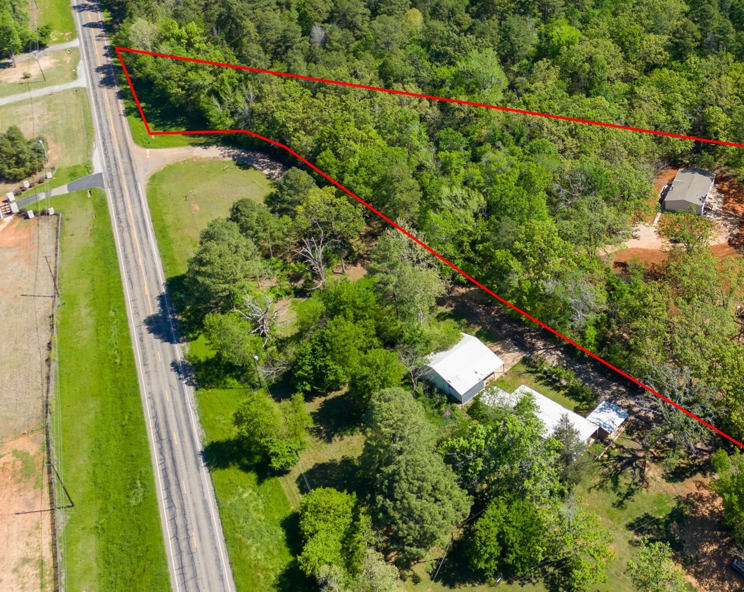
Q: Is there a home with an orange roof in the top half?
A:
No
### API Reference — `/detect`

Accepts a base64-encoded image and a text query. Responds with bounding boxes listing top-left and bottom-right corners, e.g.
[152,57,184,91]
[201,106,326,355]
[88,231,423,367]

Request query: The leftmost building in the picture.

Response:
[420,330,504,404]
